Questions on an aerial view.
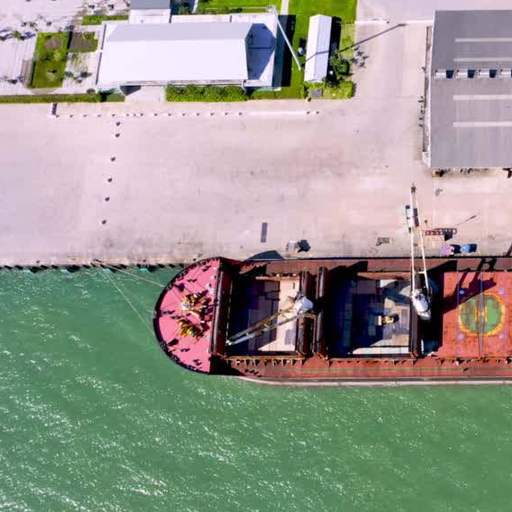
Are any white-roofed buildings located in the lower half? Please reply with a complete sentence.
No, in the lower half there is no white-roofed building.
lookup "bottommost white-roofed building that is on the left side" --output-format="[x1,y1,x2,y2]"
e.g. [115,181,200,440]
[101,13,281,102]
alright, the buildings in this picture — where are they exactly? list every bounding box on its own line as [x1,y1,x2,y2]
[101,13,281,102]
[423,9,512,188]
[305,13,332,86]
